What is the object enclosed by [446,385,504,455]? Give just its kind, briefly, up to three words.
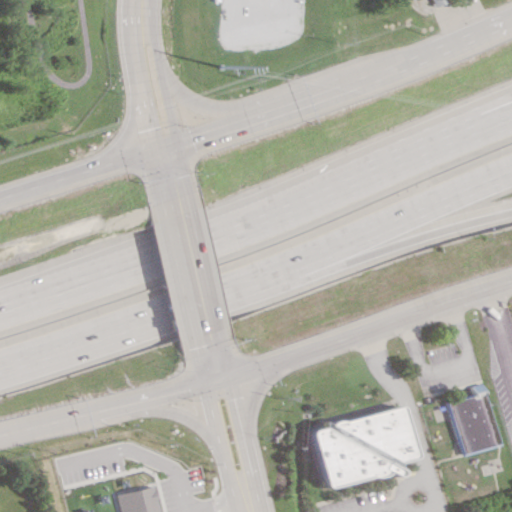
building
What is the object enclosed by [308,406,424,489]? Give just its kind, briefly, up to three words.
building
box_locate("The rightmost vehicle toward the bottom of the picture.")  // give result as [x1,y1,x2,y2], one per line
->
[487,308,503,322]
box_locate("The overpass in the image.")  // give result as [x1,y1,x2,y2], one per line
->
[146,176,236,361]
